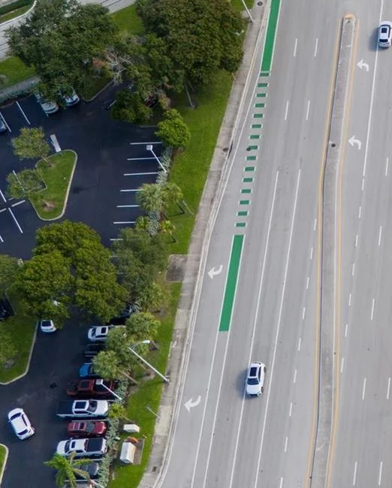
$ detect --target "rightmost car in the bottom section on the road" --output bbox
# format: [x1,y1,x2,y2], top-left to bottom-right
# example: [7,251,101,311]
[246,364,265,396]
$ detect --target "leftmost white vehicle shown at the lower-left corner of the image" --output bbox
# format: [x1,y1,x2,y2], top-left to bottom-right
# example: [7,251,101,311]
[11,408,33,439]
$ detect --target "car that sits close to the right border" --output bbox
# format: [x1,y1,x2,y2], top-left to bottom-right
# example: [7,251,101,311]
[379,22,392,47]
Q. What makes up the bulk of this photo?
paved ground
